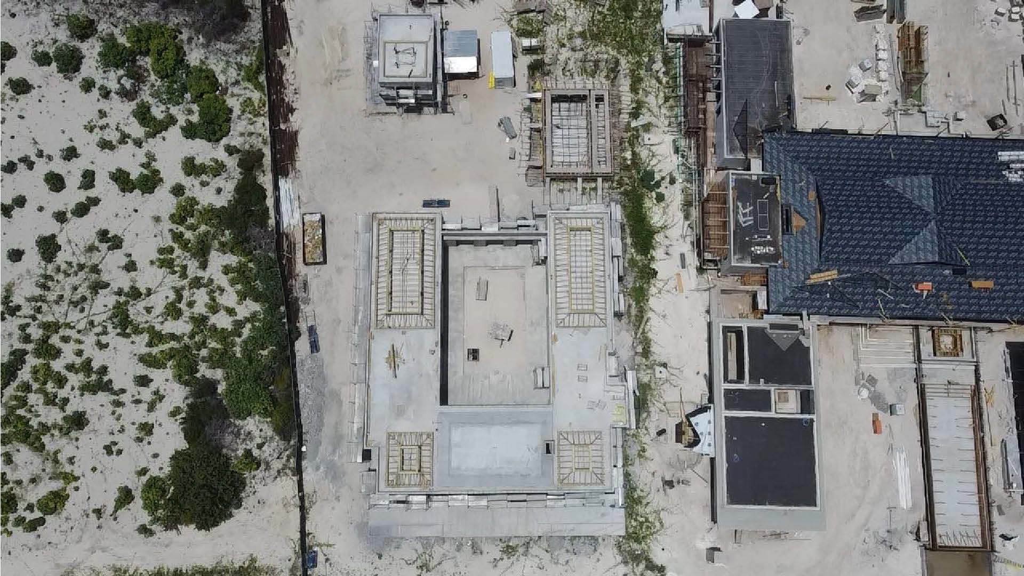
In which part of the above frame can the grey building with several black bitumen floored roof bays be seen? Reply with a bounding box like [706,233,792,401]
[707,323,826,529]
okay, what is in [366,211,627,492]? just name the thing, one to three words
building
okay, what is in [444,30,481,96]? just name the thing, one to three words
shed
